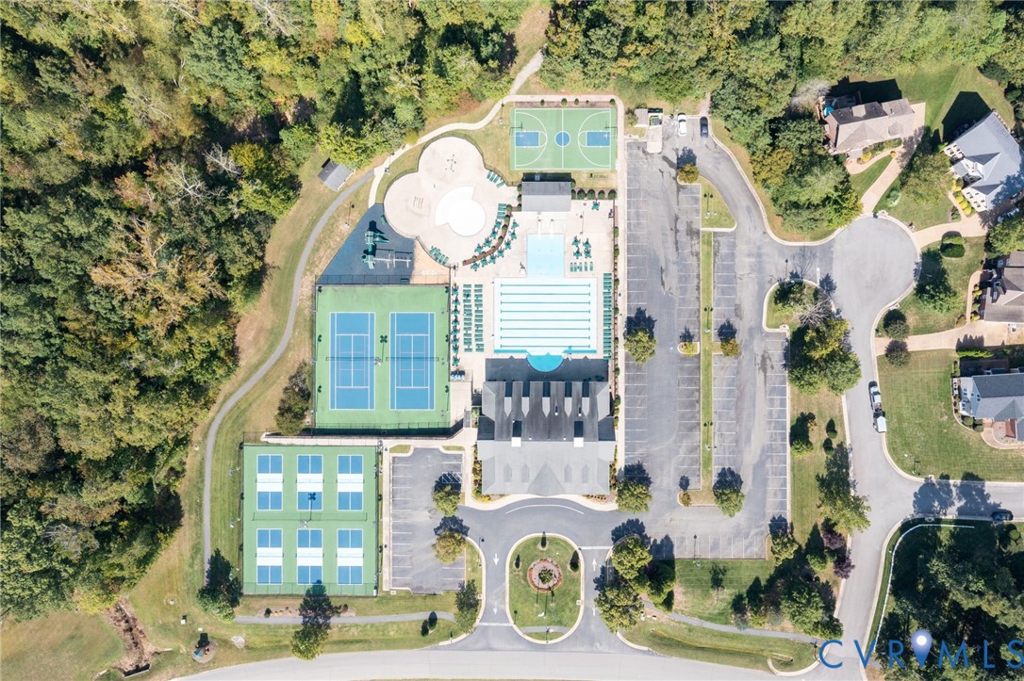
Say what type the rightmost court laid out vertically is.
tennis court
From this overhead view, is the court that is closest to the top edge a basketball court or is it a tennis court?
basketball court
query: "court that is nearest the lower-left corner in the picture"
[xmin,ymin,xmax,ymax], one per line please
[243,520,290,596]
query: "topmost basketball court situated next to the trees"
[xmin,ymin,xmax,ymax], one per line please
[510,107,616,170]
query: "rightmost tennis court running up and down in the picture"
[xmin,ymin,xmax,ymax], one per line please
[382,286,449,431]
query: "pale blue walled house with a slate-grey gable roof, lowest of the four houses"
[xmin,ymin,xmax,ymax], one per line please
[952,376,1024,447]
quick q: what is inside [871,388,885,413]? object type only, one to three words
vehicle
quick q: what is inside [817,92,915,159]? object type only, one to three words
house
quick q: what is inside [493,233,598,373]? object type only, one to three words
swimming pool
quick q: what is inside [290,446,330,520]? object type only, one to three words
sports court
